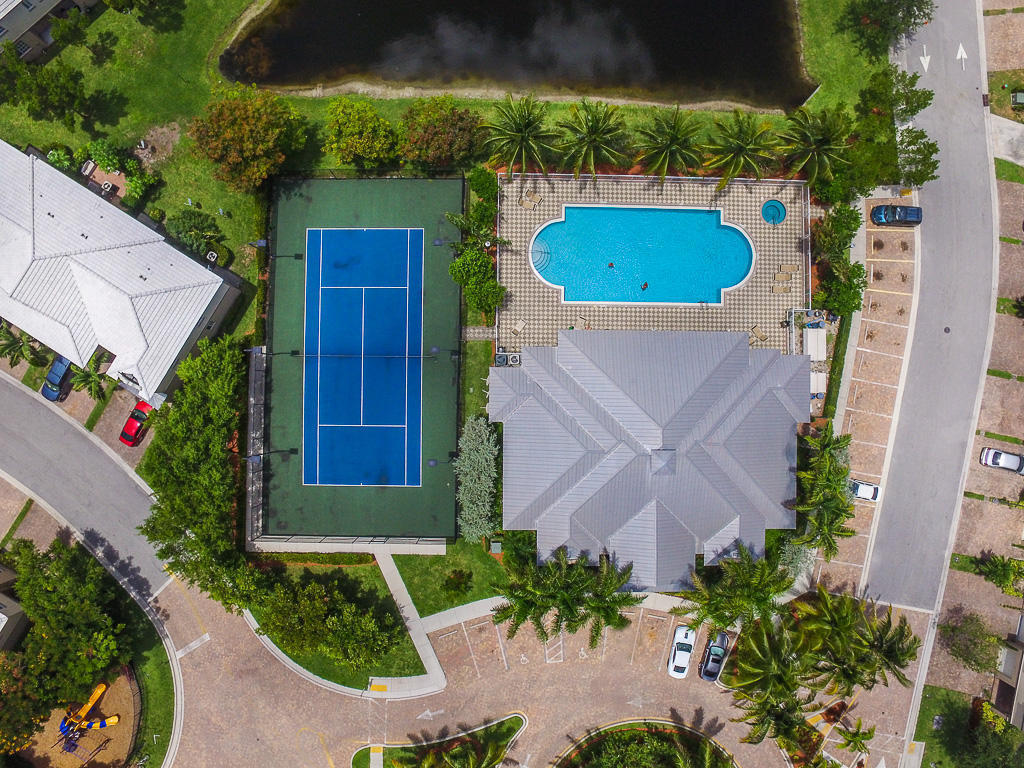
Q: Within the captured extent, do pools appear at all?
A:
Yes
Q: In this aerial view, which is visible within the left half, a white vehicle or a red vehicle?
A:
red vehicle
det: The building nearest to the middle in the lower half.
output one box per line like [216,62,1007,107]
[480,329,811,595]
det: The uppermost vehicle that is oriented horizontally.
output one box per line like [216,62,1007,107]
[868,202,924,228]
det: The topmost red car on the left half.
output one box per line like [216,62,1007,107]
[116,398,158,450]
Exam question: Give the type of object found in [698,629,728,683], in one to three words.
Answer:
car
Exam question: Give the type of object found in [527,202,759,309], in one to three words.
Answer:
swimming pool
